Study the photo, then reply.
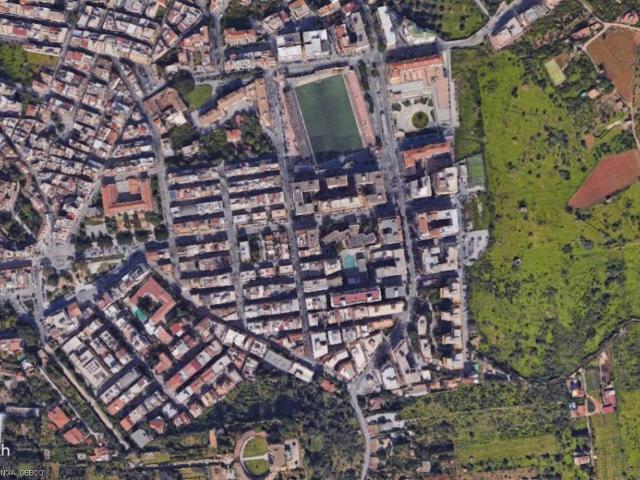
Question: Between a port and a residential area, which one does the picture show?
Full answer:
The picture captures a residential area.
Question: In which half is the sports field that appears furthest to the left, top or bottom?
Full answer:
The sports field that appears furthest to the left sits in the top half of the picture.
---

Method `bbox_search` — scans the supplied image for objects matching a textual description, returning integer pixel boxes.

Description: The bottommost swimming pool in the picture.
[344,254,356,280]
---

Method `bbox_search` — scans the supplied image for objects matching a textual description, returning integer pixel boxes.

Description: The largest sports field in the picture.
[281,65,376,168]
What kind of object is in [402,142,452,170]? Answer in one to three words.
building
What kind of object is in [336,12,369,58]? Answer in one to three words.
building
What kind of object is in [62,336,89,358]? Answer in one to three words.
house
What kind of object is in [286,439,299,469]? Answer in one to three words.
house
